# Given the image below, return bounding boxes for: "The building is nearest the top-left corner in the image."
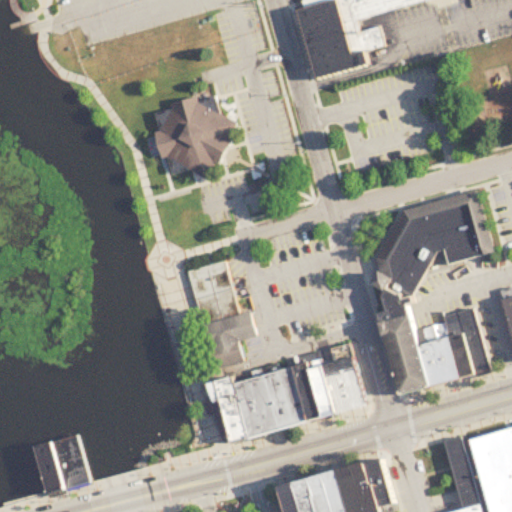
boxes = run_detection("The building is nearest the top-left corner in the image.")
[154,93,236,166]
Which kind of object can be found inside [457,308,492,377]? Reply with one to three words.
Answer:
building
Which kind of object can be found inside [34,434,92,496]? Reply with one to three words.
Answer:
building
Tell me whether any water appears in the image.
Yes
